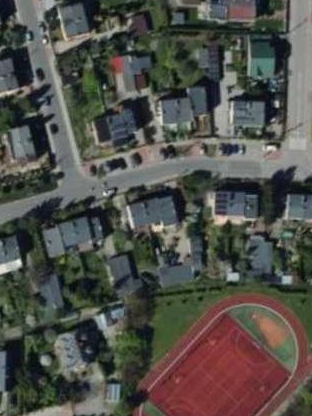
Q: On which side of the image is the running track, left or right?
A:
right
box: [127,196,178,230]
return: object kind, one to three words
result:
house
